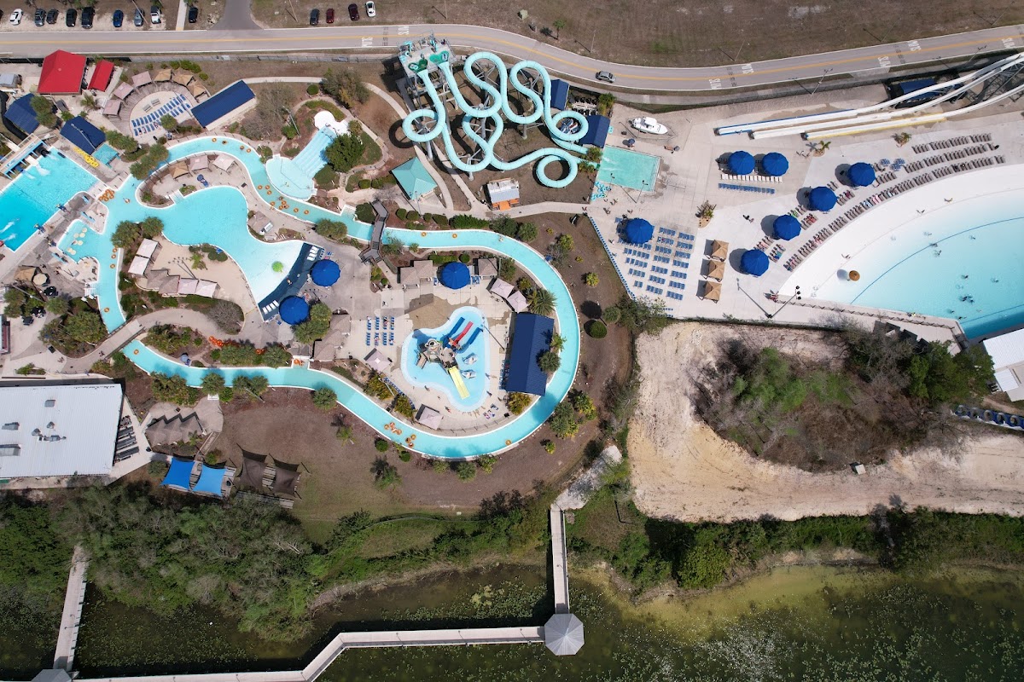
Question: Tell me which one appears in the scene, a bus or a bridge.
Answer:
bridge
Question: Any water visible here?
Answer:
Yes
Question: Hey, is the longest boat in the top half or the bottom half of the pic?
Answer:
top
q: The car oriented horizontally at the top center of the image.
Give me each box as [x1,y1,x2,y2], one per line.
[595,69,617,81]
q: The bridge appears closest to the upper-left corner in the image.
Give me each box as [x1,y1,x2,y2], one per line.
[101,317,139,353]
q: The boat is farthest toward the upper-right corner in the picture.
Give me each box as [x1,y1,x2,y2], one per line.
[629,112,669,132]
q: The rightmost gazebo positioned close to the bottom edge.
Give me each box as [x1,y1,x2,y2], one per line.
[545,614,582,655]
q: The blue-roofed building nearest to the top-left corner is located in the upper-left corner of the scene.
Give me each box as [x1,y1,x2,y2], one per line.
[5,93,53,137]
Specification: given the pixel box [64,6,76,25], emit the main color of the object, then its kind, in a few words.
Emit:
black vehicle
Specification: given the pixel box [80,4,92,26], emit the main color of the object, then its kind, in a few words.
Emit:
black vehicle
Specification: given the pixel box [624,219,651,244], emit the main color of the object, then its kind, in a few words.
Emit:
blue umbrella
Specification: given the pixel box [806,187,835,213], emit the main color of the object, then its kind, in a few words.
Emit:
blue umbrella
